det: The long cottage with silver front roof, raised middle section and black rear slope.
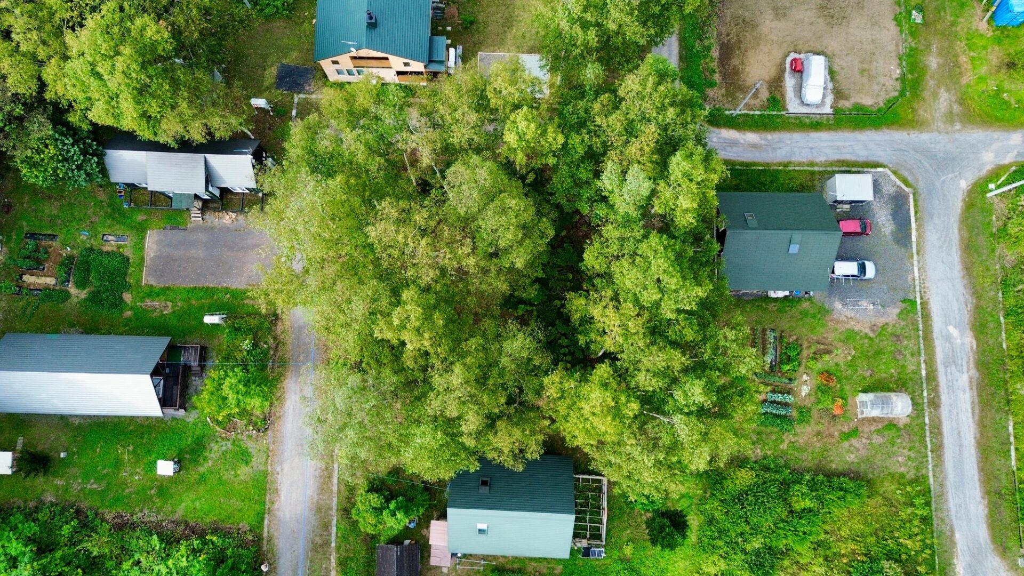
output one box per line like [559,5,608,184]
[104,134,267,223]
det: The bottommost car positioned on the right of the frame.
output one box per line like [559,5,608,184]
[829,261,874,283]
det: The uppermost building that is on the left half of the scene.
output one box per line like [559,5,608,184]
[315,0,445,94]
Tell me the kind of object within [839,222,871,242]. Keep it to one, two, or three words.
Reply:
car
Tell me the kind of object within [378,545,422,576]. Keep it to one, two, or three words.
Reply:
shed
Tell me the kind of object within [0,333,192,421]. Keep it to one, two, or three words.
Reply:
house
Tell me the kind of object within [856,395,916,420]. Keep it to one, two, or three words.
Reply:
greenhouse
